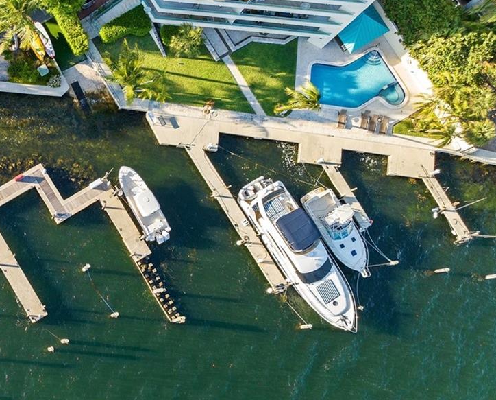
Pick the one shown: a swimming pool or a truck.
swimming pool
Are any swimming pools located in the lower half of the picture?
No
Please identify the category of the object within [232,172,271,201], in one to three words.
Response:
boat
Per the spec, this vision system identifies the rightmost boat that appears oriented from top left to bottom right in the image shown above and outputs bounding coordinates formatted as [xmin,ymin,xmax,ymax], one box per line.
[298,187,374,284]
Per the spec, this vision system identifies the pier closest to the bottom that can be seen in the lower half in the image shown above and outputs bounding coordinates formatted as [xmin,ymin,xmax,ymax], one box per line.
[130,257,184,325]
